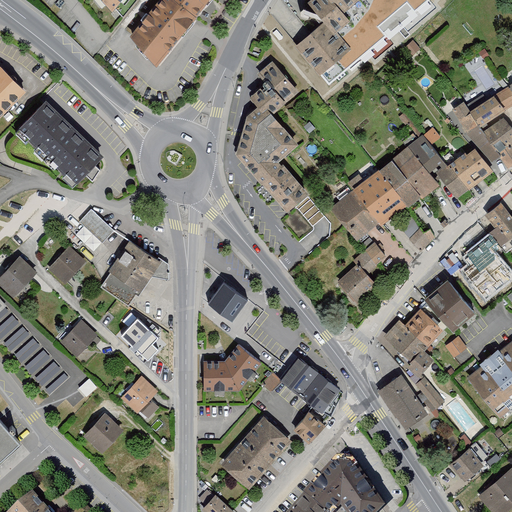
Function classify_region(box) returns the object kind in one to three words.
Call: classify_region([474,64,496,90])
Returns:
swimming pool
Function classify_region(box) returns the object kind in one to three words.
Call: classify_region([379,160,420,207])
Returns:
house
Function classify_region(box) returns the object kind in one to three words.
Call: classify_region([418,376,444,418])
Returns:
shed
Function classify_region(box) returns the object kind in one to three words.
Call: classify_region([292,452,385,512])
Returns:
building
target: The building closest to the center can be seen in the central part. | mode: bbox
[208,283,247,322]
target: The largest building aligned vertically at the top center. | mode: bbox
[236,61,308,212]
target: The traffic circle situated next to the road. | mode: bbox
[138,116,220,208]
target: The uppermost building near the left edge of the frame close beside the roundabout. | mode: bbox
[14,101,103,188]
